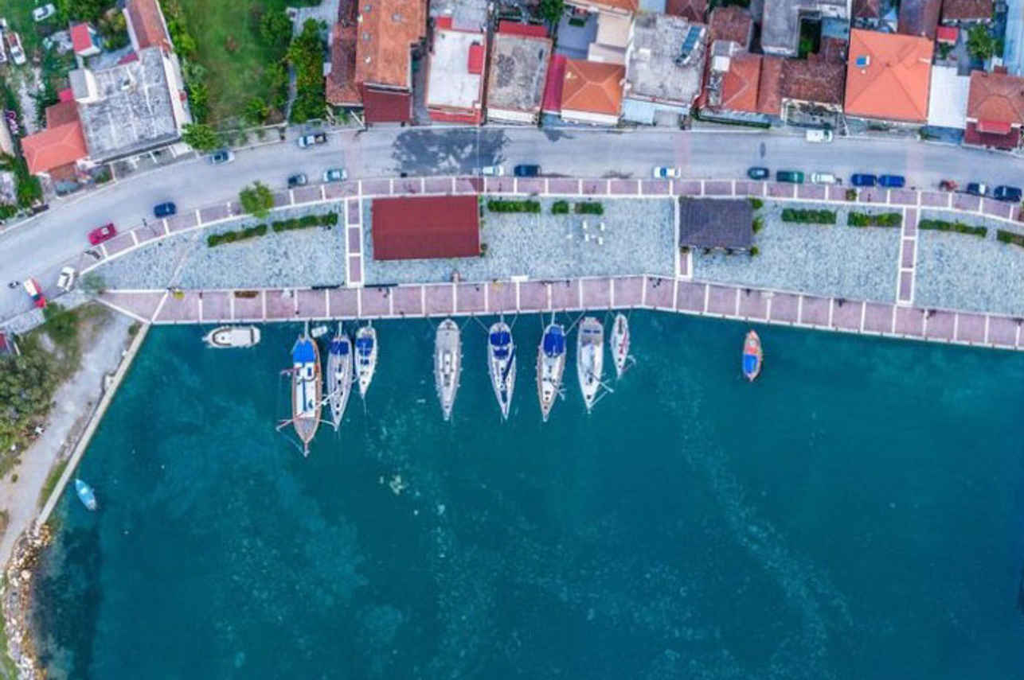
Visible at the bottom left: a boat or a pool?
boat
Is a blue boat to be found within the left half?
Yes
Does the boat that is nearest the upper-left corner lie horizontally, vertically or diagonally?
horizontally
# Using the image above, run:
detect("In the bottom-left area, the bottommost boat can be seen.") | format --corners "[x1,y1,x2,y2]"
[75,479,97,510]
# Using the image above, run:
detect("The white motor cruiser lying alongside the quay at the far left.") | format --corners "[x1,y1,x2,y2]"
[200,320,267,349]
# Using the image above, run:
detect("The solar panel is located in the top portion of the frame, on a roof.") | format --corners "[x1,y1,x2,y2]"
[681,26,706,50]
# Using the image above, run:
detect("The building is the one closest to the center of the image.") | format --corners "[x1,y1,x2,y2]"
[371,196,482,260]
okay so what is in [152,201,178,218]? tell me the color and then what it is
blue car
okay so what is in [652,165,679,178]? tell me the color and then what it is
white vehicle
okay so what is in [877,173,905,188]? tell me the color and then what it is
blue car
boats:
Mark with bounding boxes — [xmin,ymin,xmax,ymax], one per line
[566,310,610,411]
[609,307,636,379]
[344,319,378,399]
[273,320,323,460]
[306,320,352,430]
[427,314,473,421]
[200,320,267,349]
[535,310,583,423]
[313,326,328,336]
[741,329,763,382]
[477,312,518,421]
[75,479,97,510]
